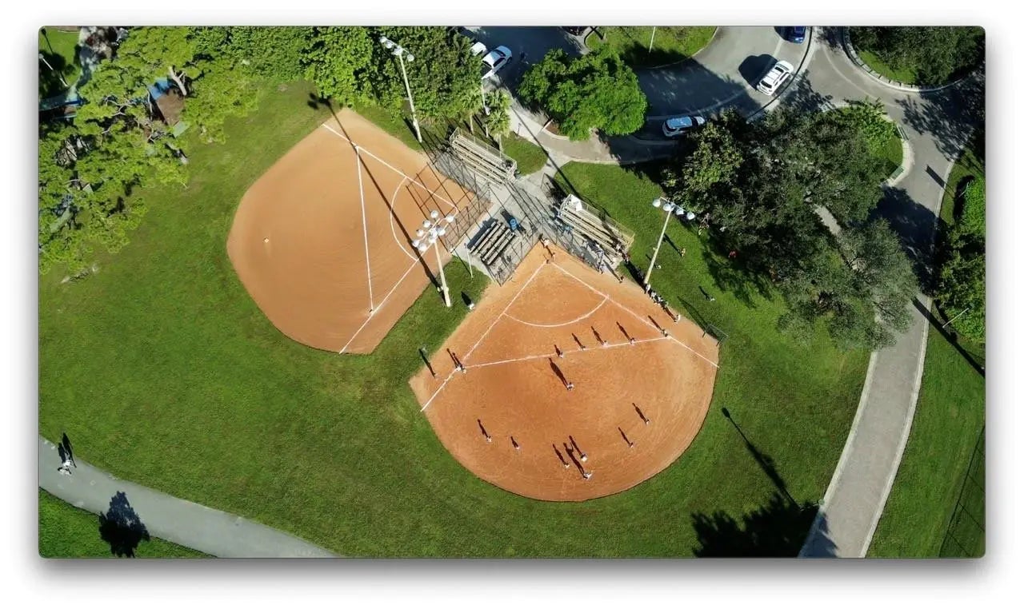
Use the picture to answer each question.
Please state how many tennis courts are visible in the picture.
none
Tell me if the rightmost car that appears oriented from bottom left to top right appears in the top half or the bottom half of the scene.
top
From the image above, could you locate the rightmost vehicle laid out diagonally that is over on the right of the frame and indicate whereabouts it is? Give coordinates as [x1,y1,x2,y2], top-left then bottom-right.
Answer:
[756,63,792,97]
